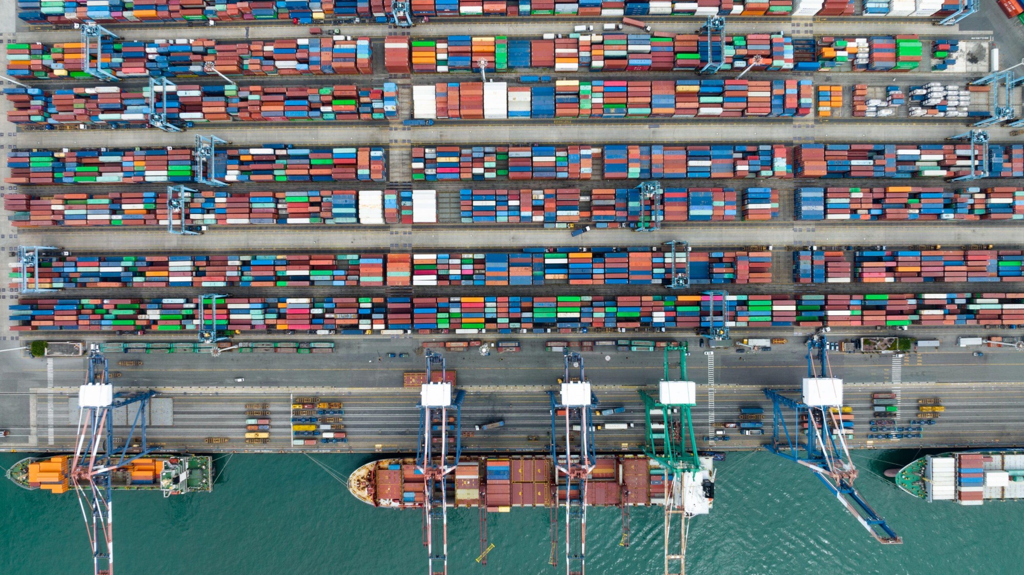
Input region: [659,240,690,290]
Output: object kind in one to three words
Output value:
container crane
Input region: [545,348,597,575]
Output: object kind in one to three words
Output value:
container crane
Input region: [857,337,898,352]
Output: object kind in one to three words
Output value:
building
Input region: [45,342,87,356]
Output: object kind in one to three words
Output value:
building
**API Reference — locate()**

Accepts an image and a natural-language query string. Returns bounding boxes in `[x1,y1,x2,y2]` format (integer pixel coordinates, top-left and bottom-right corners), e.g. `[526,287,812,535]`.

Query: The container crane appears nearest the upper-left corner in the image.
[83,23,128,82]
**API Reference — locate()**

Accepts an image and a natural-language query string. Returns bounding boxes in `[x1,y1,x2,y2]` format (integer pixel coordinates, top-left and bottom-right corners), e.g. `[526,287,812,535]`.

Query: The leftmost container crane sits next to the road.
[20,245,68,293]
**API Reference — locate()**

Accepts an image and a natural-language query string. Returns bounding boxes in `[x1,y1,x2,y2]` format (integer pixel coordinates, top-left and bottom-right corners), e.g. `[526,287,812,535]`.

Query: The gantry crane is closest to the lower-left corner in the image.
[67,351,159,575]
